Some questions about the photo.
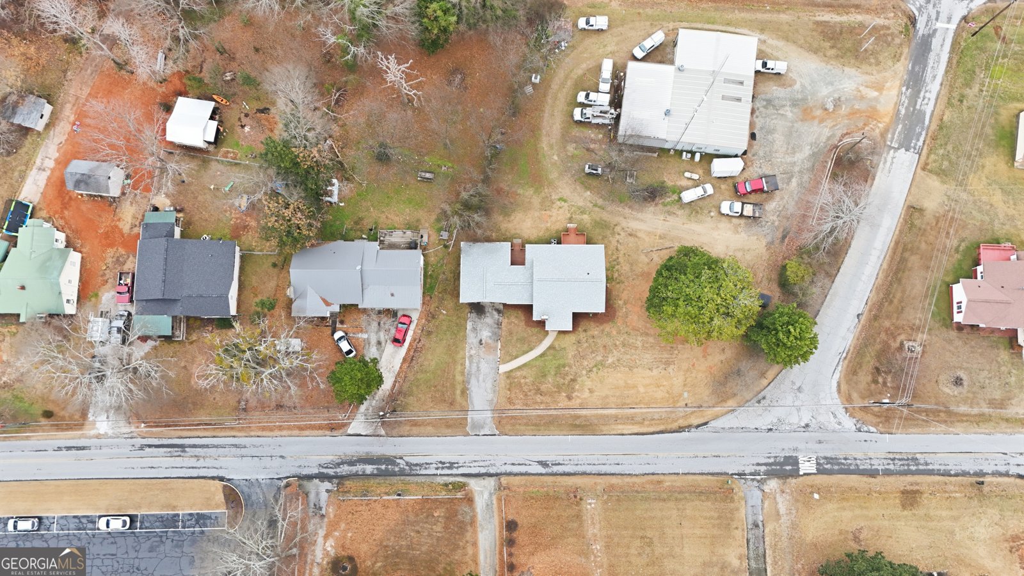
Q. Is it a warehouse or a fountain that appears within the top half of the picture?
warehouse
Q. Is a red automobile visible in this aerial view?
Yes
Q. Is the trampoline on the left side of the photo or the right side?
left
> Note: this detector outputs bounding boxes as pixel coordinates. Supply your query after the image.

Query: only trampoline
[0,197,36,235]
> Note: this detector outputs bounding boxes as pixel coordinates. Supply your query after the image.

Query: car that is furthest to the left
[8,516,42,532]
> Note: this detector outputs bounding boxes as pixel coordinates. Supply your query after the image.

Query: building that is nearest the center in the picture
[460,240,607,331]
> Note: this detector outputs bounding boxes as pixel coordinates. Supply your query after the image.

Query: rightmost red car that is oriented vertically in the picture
[393,314,411,348]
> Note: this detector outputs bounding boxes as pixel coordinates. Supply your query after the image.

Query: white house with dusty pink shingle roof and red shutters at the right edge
[947,252,1024,345]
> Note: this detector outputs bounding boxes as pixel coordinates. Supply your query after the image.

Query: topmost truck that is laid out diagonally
[631,27,667,61]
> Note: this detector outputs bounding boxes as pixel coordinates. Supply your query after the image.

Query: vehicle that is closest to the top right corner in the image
[755,58,788,76]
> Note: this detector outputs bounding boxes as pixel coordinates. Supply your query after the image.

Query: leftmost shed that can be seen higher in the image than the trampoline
[1,94,56,135]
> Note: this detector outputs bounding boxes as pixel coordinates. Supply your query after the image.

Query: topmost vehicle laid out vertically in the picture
[597,57,615,92]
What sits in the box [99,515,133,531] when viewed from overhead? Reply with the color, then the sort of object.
white car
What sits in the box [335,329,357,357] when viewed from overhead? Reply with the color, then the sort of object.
white car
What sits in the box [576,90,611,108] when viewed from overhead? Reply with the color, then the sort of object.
white vehicle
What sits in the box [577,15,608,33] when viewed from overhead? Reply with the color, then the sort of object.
white vehicle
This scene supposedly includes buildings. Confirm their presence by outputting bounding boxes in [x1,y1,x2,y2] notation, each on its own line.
[549,20,572,44]
[286,240,423,317]
[1,94,56,135]
[166,97,222,151]
[947,252,1024,345]
[460,240,607,331]
[1014,113,1024,170]
[0,217,83,322]
[133,211,243,340]
[617,28,758,156]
